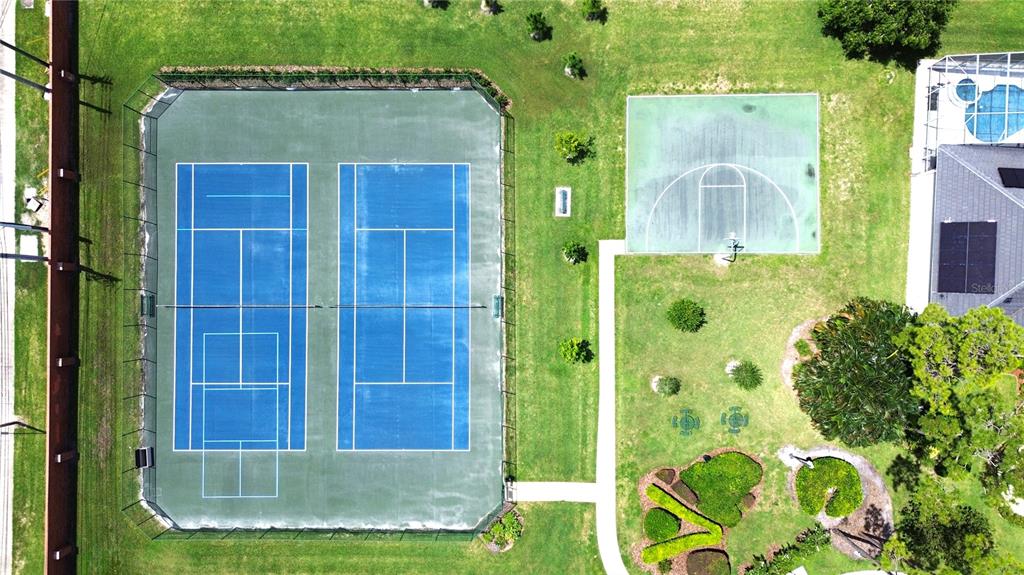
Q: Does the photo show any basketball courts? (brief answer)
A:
Yes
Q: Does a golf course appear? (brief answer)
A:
No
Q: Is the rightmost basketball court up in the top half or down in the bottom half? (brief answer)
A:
top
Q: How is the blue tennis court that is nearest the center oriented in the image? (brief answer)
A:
up and down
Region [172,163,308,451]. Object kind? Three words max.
tennis court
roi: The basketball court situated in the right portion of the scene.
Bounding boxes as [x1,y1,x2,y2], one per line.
[626,94,820,253]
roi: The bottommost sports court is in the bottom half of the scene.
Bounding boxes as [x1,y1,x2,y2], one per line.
[202,333,279,498]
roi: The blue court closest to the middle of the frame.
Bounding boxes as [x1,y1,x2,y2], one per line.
[336,163,471,451]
